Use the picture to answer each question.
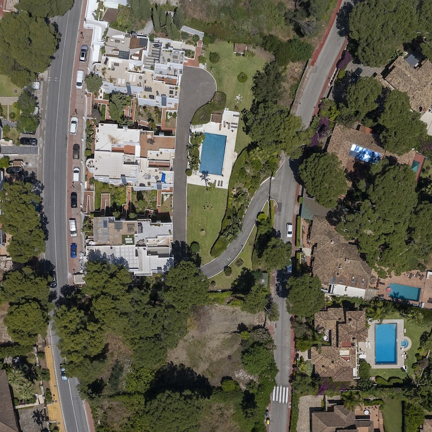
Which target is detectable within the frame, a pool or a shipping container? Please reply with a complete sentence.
Of the two, only a pool appears.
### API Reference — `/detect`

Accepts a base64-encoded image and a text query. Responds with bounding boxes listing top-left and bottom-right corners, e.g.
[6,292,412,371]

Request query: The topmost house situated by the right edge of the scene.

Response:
[376,53,432,114]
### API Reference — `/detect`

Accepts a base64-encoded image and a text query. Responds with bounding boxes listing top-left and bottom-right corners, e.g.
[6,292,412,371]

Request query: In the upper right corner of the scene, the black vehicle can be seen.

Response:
[350,67,362,83]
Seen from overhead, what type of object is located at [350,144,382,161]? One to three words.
solar panel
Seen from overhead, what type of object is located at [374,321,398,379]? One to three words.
swimming pool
